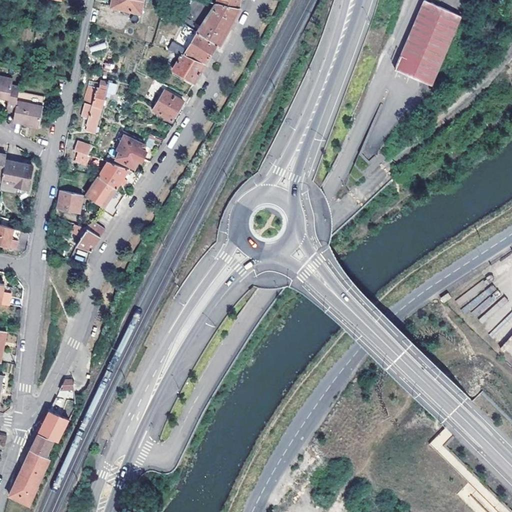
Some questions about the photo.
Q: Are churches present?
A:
No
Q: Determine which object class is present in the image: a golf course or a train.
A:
train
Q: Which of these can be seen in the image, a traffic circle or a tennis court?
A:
traffic circle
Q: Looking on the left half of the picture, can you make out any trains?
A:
Yes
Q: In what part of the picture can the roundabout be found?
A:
center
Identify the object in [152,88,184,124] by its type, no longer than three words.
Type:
house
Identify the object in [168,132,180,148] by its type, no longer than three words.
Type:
vehicle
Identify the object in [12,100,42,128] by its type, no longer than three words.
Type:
house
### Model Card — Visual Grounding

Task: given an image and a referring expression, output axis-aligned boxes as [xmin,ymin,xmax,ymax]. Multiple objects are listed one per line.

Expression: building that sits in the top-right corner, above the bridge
[396,0,463,86]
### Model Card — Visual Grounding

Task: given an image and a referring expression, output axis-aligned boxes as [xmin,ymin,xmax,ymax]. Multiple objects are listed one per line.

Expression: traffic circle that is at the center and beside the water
[203,149,332,288]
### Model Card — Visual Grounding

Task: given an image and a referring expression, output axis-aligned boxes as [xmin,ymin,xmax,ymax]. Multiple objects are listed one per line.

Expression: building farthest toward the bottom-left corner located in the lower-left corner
[7,452,50,509]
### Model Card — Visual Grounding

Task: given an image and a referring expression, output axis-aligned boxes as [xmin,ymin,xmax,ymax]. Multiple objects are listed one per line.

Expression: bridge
[292,247,512,488]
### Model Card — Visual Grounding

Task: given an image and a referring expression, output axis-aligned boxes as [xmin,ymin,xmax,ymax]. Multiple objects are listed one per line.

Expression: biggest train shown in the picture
[52,308,140,488]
